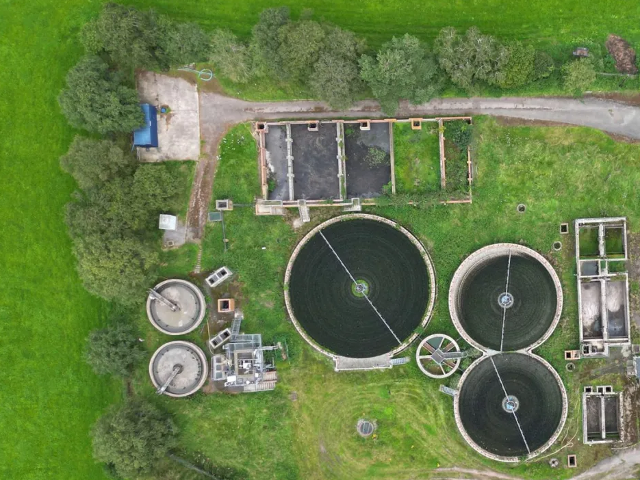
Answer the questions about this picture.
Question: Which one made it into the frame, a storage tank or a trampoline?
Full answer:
Of the two, only a storage tank appears.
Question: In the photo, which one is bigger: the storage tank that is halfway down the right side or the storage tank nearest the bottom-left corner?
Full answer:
The storage tank that is halfway down the right side is bigger than the storage tank nearest the bottom-left corner.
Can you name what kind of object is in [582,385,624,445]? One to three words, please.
storage tank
